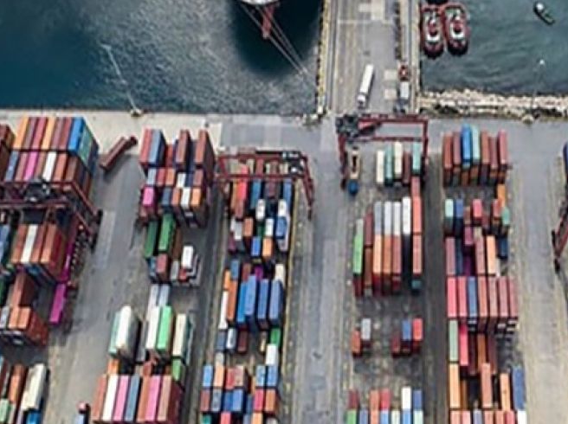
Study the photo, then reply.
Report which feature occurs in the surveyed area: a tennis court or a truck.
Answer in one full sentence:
The one in the frame is a truck.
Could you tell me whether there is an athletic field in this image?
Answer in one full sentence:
No, I can't see a single athletic field in this photo.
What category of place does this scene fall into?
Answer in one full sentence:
It's a port.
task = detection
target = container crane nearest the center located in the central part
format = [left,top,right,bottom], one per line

[215,148,320,218]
